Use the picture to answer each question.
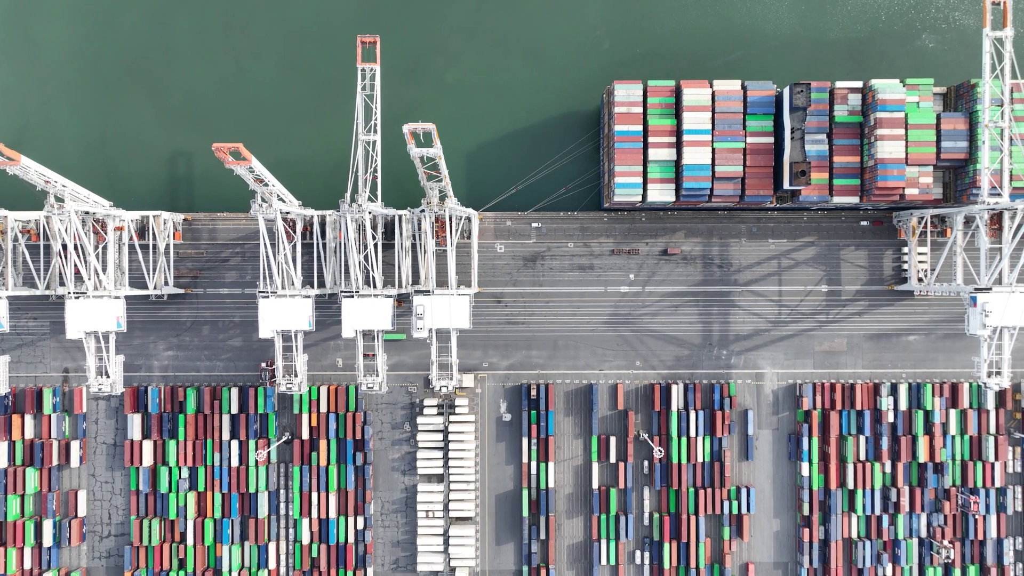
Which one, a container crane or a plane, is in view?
container crane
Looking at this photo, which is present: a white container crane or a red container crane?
white container crane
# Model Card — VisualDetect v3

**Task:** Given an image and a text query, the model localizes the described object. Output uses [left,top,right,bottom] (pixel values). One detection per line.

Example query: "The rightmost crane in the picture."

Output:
[884,0,1024,390]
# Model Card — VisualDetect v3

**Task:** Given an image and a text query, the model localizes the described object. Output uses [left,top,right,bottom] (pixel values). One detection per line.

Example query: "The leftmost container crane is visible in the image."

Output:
[0,200,84,391]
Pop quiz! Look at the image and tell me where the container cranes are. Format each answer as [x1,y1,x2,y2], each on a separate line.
[210,136,349,389]
[0,139,186,390]
[884,0,1024,390]
[406,120,484,388]
[336,33,419,389]
[0,200,84,391]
